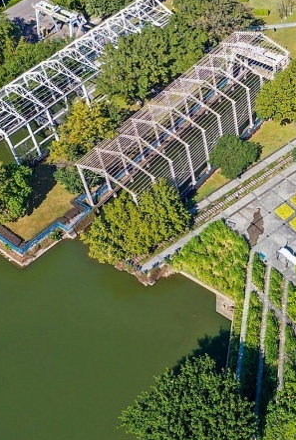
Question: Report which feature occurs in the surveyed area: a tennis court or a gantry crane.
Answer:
gantry crane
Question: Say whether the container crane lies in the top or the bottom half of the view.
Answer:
top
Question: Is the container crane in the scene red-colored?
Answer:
No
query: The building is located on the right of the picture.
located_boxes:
[75,31,289,215]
